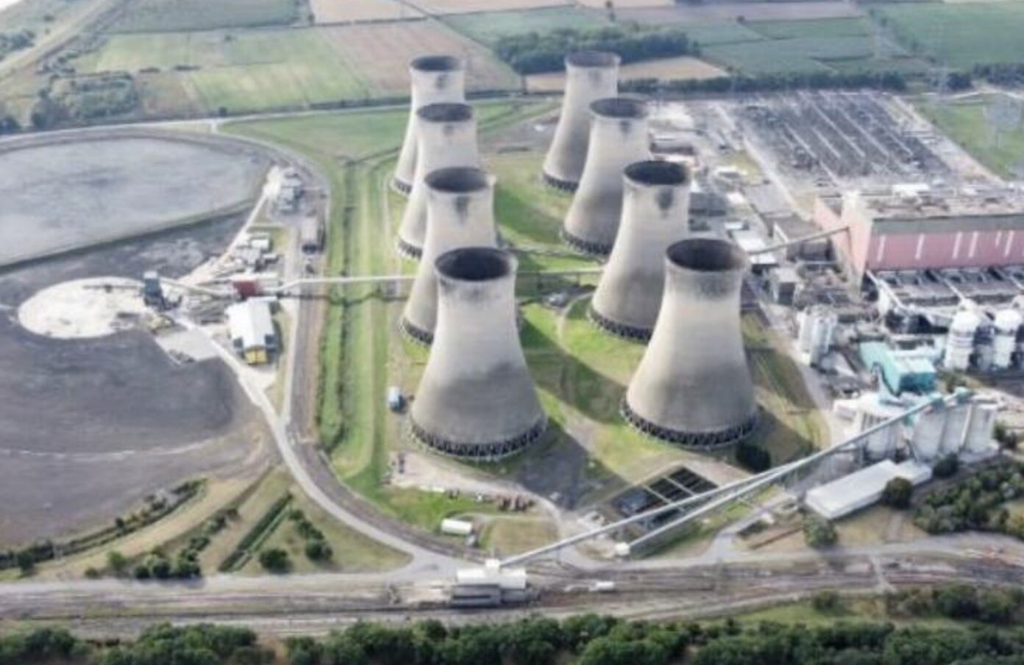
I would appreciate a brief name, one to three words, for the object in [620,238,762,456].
cooling tower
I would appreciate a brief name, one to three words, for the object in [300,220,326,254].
shed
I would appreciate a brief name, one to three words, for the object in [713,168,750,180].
building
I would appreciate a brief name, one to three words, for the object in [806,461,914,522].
building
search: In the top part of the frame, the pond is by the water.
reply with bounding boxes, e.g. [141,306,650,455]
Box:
[0,128,279,276]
